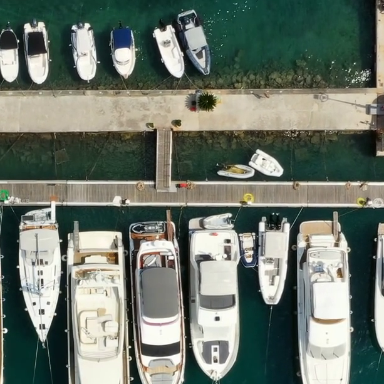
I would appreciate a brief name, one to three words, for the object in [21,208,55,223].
boat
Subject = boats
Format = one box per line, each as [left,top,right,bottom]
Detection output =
[371,223,384,350]
[258,214,290,304]
[204,214,235,229]
[16,196,63,345]
[188,217,241,384]
[178,7,211,75]
[210,163,255,178]
[21,208,55,223]
[291,211,355,384]
[109,18,139,80]
[133,223,166,234]
[238,233,257,268]
[23,13,52,83]
[153,16,184,79]
[70,15,101,85]
[0,18,21,82]
[61,221,134,384]
[129,210,188,384]
[248,148,284,175]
